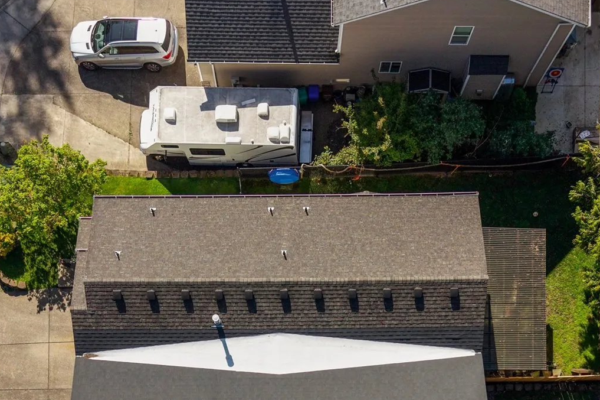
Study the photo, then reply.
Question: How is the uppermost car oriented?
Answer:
from side to side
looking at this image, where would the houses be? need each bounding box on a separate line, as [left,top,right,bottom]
[184,0,594,98]
[70,193,489,400]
